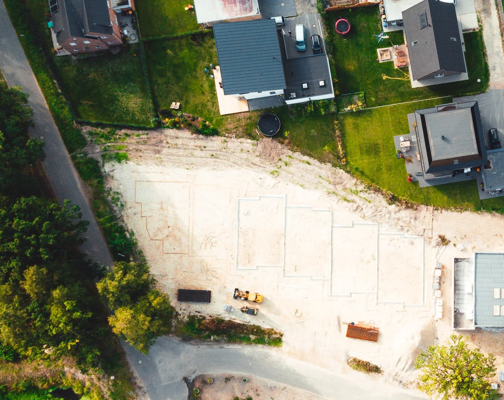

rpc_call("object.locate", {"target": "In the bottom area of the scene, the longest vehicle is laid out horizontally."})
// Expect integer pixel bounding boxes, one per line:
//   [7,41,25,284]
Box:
[230,287,262,304]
